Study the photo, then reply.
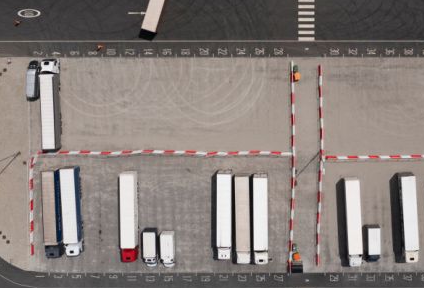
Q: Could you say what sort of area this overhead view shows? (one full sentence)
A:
The picture captures a parking lot.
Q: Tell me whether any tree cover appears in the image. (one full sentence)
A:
No, there is no tree cover in the image.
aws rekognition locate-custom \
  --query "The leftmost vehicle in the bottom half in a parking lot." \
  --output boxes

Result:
[41,167,65,260]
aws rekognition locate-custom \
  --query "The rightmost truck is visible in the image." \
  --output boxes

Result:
[397,172,419,263]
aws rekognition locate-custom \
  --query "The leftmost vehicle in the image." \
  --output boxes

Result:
[23,60,38,99]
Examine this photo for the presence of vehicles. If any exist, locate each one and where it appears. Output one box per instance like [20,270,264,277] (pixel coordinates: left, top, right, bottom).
[234,173,252,264]
[39,57,62,150]
[59,165,84,258]
[143,227,158,266]
[397,172,419,263]
[161,231,175,262]
[365,224,382,265]
[23,60,38,99]
[141,0,167,33]
[120,170,139,263]
[344,176,364,268]
[41,167,65,260]
[253,173,270,265]
[217,170,233,261]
